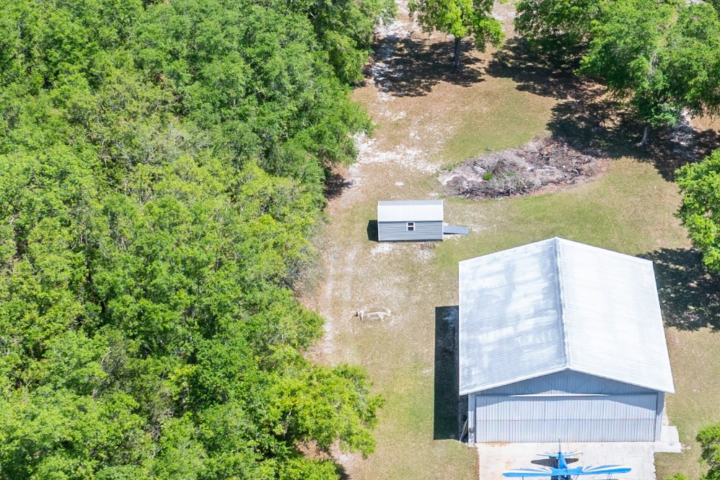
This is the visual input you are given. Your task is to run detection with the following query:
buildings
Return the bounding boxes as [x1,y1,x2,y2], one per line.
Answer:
[458,237,674,443]
[377,202,468,240]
